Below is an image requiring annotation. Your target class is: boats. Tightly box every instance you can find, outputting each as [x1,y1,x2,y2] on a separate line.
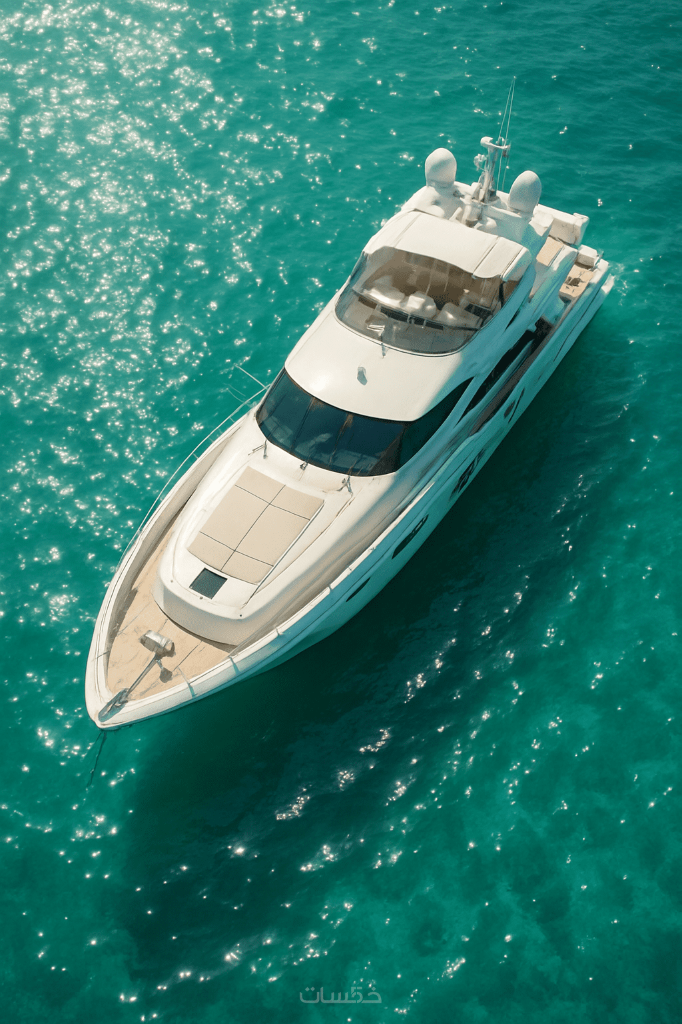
[84,79,622,732]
